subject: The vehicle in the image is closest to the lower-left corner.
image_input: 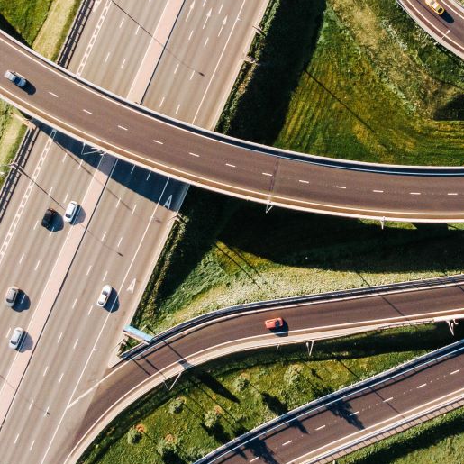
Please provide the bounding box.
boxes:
[10,327,24,349]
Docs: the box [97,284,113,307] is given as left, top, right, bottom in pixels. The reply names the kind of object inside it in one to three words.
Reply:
car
